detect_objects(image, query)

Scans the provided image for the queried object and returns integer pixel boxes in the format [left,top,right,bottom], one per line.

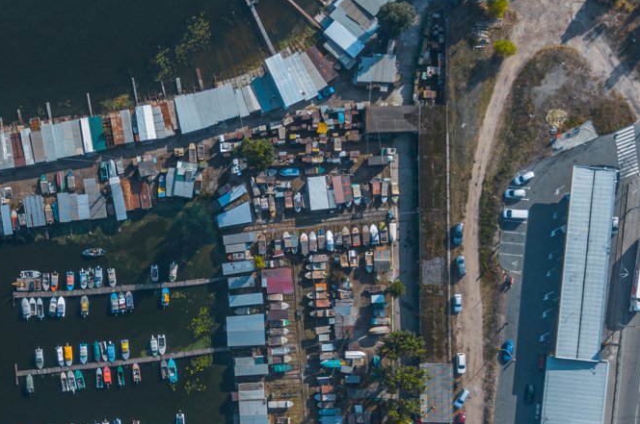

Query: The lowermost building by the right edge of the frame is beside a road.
[536,355,608,424]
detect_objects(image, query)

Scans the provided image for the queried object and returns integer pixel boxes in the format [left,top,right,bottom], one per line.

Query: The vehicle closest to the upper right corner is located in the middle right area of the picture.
[514,170,534,185]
